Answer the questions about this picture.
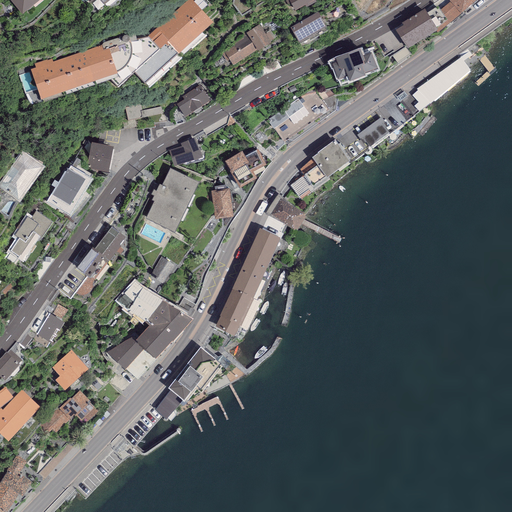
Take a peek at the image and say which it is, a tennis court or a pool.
pool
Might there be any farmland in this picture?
No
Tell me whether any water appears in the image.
Yes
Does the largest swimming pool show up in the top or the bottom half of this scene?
top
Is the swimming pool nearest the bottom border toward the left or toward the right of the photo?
left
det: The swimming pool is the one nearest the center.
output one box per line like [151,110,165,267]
[140,222,168,245]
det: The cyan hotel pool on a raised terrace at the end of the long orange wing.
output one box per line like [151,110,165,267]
[18,69,42,104]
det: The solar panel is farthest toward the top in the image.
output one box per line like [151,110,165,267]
[296,18,326,40]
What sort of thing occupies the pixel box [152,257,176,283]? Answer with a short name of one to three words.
house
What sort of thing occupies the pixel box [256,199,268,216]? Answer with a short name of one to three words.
vehicle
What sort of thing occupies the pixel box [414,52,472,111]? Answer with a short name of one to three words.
building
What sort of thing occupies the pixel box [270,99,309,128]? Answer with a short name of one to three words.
building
